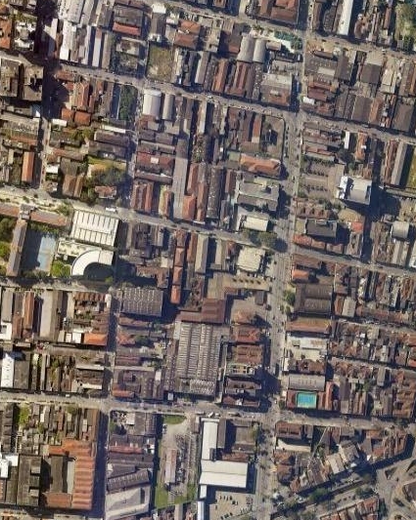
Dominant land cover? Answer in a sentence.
For the most part, this view shows buildings.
